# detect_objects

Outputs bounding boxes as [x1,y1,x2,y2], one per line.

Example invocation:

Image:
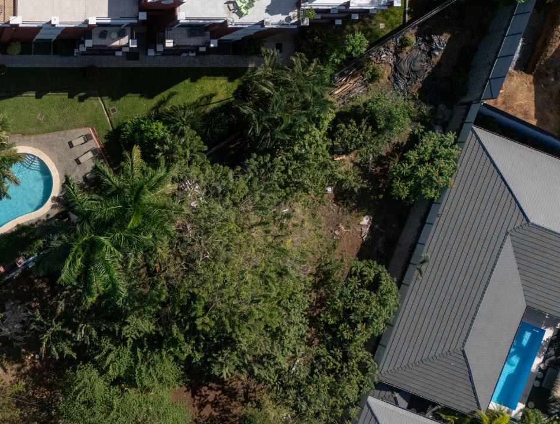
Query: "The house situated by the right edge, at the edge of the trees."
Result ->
[378,125,560,415]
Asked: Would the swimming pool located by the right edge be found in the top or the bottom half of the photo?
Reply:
bottom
